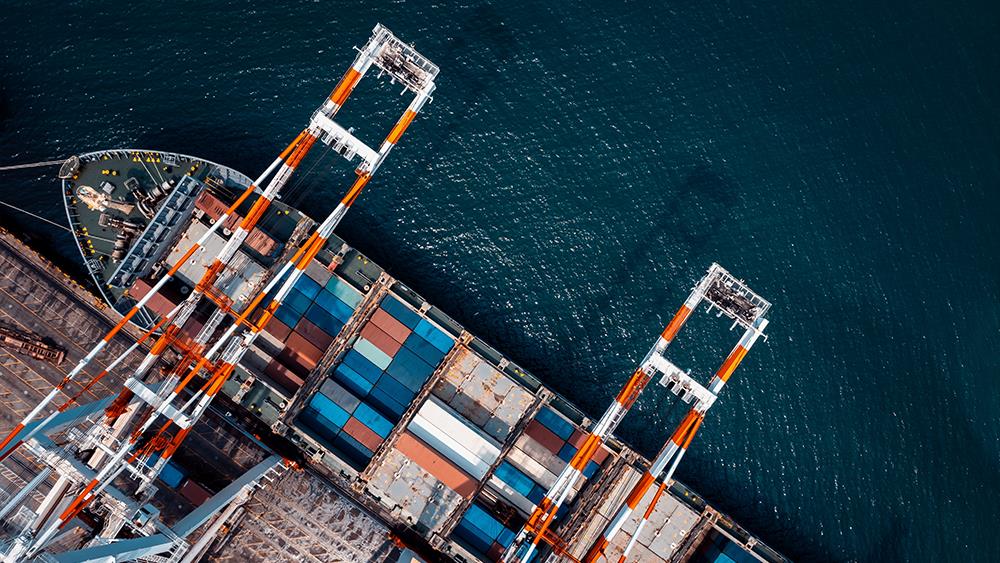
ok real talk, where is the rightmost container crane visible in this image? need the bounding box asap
[493,262,773,563]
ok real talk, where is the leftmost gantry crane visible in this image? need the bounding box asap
[0,24,440,563]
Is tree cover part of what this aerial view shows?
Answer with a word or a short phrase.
No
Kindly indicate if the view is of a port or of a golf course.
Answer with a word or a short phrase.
port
